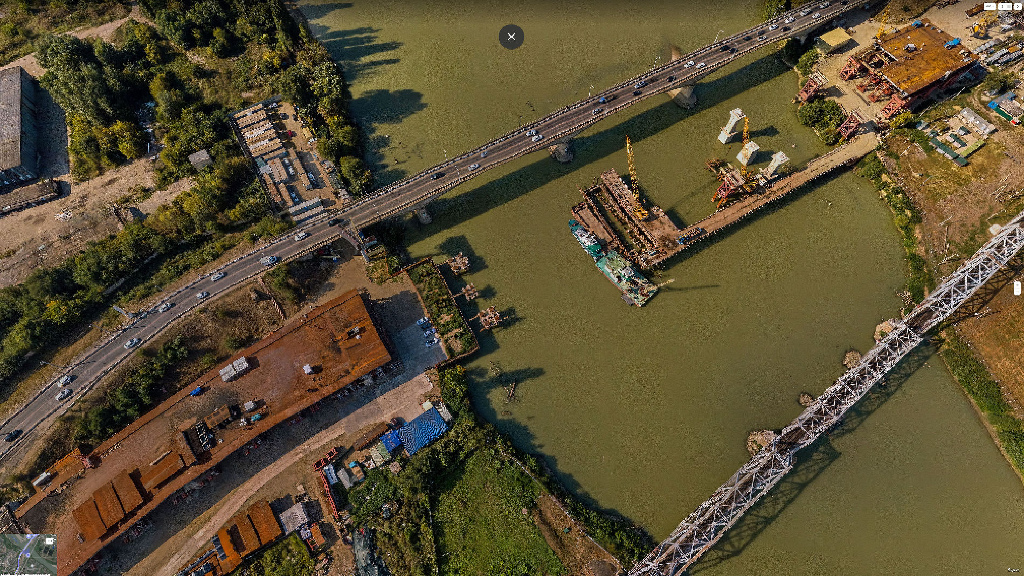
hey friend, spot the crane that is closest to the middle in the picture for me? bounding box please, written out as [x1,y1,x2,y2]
[621,135,655,225]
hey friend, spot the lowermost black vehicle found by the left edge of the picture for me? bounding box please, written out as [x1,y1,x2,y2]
[2,429,19,443]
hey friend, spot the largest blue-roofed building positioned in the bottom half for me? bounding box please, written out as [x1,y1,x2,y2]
[396,405,451,457]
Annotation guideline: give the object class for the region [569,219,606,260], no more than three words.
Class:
boat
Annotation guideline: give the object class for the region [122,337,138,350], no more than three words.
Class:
vehicle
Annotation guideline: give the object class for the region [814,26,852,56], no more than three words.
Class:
hangar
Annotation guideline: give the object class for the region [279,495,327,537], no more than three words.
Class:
building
